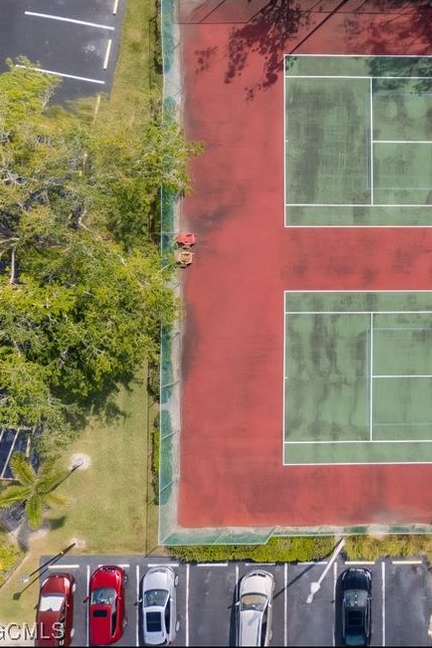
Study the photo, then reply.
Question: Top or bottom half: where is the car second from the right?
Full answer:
The bottom half of the photo is where the car second from the right is.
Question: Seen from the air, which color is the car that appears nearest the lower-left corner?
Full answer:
From above, the car that appears nearest the lower-left corner appears red.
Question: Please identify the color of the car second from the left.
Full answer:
The color of the car second from the left is red.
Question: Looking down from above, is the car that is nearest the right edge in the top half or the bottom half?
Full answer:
It is in the bottom half that the car that is nearest the right edge appears.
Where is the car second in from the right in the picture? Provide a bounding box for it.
[236,568,274,648]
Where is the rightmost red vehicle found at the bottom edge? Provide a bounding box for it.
[83,565,125,644]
